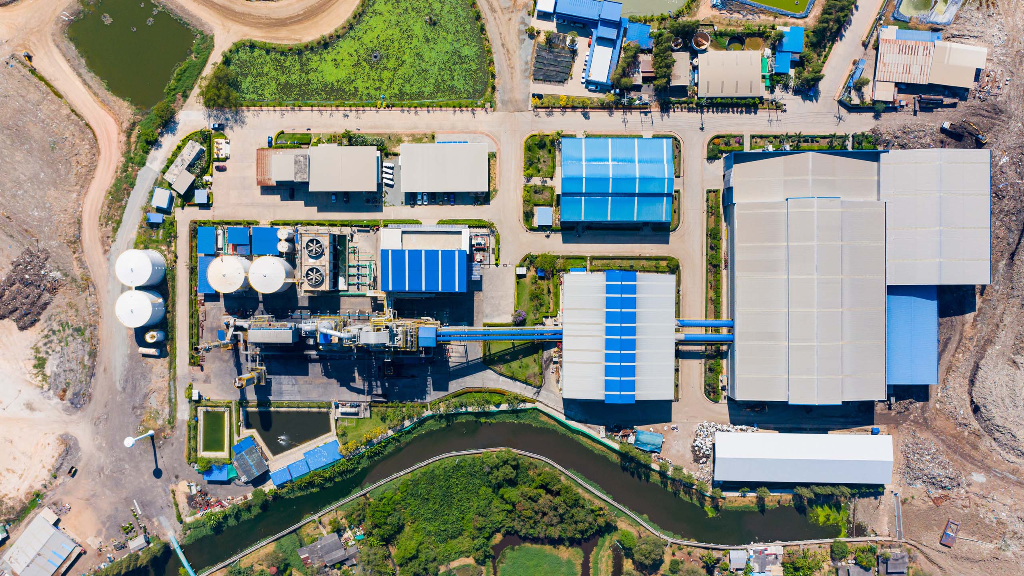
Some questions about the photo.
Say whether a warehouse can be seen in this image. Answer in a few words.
Yes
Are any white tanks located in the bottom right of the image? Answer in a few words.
No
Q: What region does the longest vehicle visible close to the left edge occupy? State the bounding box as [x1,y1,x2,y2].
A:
[18,49,34,71]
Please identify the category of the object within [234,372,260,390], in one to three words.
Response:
silo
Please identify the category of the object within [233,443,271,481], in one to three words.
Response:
shed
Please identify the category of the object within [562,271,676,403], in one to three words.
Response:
warehouse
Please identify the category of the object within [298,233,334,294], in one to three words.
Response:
cooling tower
